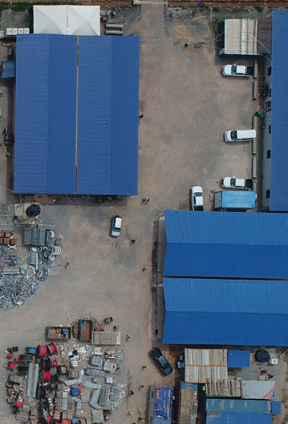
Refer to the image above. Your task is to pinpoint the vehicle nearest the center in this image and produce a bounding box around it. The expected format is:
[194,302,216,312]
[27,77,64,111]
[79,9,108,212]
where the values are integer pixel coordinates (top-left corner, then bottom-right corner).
[108,213,123,241]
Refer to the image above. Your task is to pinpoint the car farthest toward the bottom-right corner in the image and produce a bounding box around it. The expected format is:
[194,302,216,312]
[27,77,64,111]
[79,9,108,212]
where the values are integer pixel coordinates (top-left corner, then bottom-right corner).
[149,347,170,375]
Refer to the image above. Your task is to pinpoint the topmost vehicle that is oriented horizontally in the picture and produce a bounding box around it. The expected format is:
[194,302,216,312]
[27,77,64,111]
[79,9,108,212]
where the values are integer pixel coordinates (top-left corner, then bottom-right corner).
[219,63,251,77]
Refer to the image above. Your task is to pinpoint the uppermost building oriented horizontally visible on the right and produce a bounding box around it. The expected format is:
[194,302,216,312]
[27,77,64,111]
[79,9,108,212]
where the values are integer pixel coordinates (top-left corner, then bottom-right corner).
[154,212,288,278]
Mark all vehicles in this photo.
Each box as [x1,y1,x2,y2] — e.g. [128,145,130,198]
[208,191,255,210]
[149,347,170,375]
[221,130,255,143]
[188,183,204,212]
[108,213,123,241]
[219,63,251,77]
[219,176,251,191]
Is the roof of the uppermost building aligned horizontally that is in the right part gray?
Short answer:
No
